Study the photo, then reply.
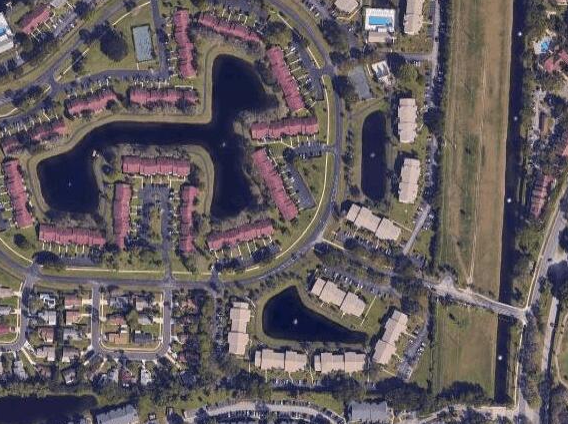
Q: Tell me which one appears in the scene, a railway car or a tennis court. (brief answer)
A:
tennis court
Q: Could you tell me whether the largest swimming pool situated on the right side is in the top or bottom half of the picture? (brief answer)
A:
top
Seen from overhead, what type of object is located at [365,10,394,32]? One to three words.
swimming pool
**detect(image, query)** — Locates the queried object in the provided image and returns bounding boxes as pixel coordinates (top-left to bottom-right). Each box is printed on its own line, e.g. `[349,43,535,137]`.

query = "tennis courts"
[345,65,374,102]
[133,25,150,64]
